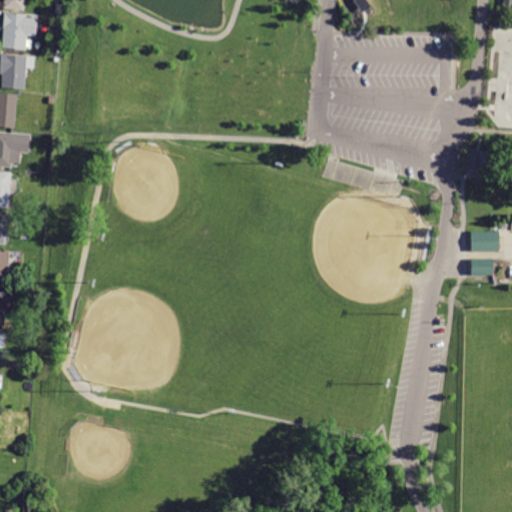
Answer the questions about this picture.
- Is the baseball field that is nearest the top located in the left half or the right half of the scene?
left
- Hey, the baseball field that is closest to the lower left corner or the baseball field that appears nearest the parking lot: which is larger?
the baseball field that appears nearest the parking lot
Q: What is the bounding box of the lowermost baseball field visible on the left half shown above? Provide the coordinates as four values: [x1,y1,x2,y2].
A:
[69,420,132,480]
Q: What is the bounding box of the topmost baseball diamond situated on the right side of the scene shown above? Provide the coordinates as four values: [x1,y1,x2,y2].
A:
[312,195,414,304]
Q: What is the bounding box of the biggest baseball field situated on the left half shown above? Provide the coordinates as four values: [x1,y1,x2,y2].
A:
[76,288,182,390]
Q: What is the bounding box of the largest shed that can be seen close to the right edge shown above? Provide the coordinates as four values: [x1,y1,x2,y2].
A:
[471,232,500,251]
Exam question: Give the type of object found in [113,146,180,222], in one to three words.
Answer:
baseball field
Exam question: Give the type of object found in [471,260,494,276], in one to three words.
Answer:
shed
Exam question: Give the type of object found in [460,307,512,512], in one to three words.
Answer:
sports field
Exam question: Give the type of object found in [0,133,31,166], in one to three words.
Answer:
house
